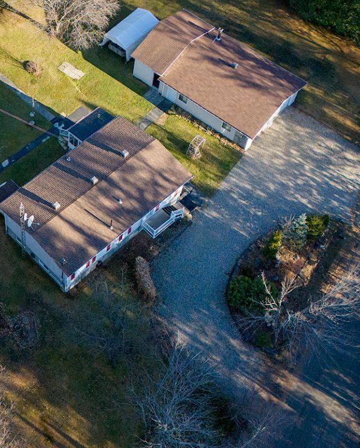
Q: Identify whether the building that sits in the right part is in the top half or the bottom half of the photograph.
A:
top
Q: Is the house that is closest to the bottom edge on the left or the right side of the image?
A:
left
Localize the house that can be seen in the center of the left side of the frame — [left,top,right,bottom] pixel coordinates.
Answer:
[0,105,191,292]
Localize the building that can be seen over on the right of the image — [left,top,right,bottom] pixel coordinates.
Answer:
[130,7,305,151]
